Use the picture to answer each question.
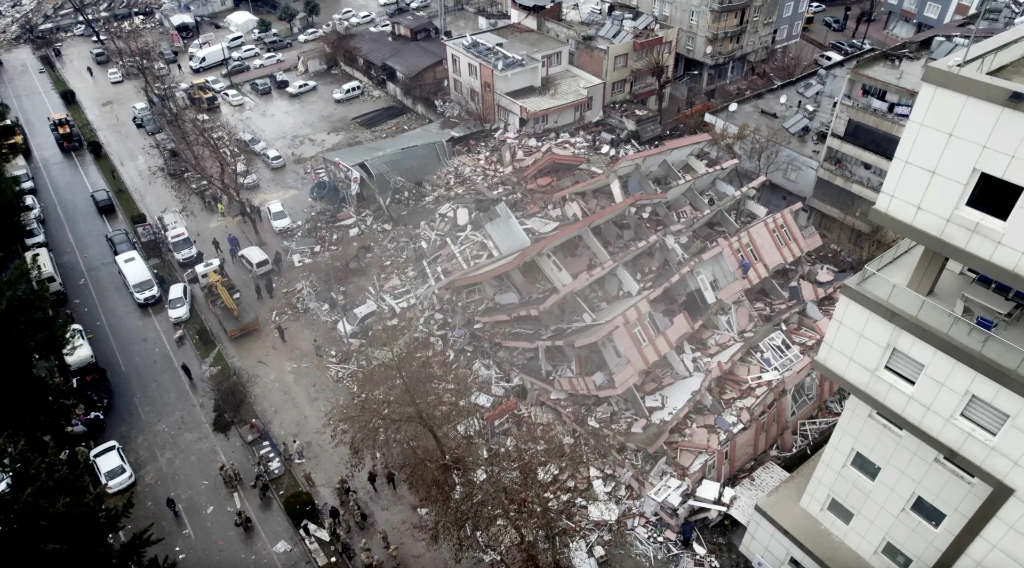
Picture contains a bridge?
No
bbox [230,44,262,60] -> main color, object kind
white car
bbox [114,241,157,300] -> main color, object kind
white vehicle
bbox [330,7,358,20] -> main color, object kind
white vehicle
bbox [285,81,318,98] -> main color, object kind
white car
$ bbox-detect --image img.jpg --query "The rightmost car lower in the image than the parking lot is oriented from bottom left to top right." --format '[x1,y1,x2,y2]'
[333,303,382,346]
